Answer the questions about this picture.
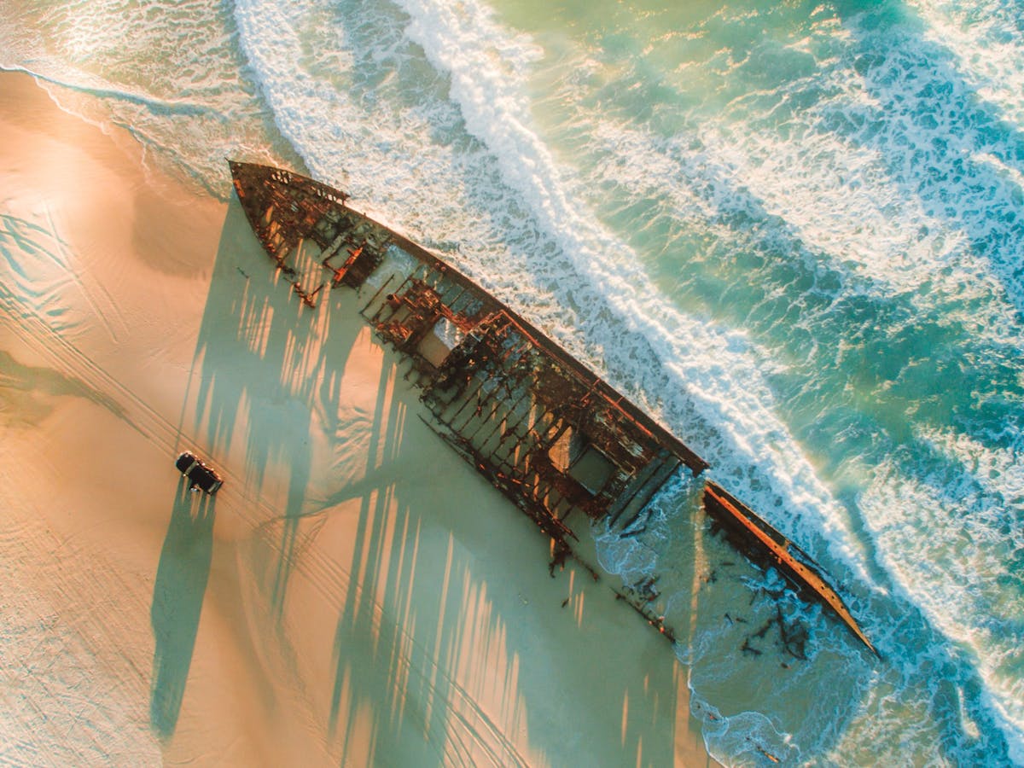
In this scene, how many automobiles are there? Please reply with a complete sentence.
The picture shows just 1 automobile.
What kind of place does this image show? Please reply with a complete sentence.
The picture captures a beach.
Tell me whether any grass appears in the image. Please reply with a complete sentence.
No, there's no grass in this view.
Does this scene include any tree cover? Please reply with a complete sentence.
No, no tree cover is visible.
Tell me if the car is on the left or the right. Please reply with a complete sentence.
You can find the car on the left side of the picture.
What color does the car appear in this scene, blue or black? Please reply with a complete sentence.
From above, the car appears black.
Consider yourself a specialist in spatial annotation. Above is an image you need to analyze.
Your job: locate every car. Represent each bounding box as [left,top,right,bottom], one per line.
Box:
[171,450,222,492]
